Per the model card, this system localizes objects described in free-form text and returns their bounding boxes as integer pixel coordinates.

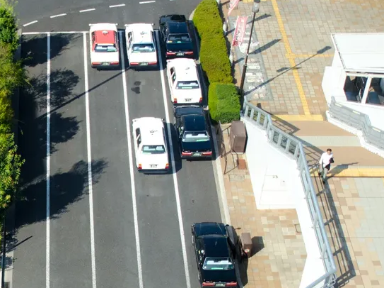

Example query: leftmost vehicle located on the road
[87,16,118,66]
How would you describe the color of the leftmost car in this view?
white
